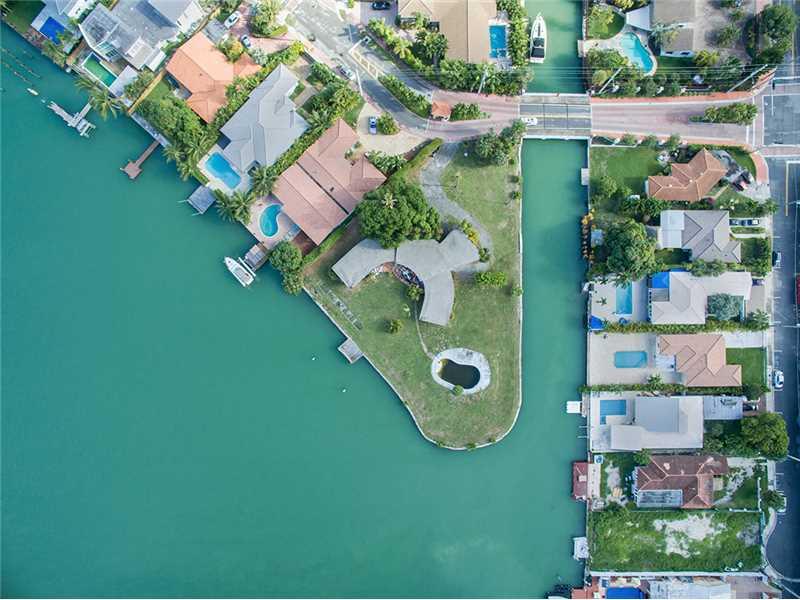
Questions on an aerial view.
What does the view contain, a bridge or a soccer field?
bridge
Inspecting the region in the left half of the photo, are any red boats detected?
No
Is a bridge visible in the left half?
No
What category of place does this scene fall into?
residential area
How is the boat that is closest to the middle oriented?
at an angle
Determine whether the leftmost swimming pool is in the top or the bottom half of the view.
top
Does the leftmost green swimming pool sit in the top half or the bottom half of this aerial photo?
top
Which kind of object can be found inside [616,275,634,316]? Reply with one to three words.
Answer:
swimming pool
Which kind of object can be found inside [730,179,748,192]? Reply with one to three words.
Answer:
vehicle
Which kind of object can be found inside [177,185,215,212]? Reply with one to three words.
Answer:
pier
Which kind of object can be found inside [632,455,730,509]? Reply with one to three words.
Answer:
house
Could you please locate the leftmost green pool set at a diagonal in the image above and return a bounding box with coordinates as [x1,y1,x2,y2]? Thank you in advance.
[80,52,119,90]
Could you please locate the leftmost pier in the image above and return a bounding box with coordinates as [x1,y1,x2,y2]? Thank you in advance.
[51,97,95,138]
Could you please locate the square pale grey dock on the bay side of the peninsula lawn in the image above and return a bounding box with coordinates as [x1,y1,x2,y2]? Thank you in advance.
[338,338,362,362]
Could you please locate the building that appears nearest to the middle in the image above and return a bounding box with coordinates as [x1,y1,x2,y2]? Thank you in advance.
[332,230,479,326]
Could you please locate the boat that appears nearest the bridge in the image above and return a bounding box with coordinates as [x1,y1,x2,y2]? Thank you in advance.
[531,12,545,63]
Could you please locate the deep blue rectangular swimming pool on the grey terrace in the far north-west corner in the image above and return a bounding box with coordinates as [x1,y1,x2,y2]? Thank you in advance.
[38,15,66,45]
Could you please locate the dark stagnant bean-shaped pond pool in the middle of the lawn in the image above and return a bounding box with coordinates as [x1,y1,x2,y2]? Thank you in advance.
[439,359,480,389]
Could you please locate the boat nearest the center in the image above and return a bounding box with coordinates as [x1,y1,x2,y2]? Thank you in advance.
[226,259,258,288]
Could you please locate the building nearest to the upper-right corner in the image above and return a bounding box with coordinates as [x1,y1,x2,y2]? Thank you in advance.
[648,0,702,58]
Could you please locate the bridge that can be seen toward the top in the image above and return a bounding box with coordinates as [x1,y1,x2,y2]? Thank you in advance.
[519,90,595,138]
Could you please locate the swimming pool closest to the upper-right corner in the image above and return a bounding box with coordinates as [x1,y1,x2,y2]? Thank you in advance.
[617,31,656,74]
